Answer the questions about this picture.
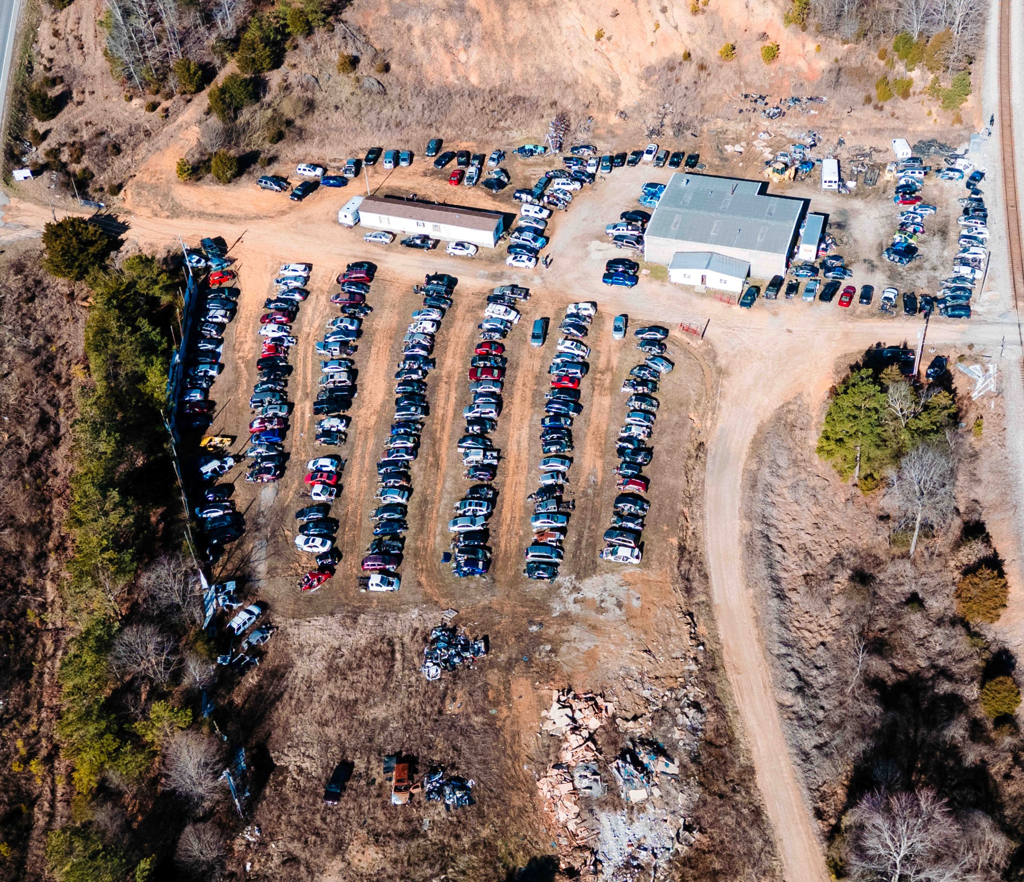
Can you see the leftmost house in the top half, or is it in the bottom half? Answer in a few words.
top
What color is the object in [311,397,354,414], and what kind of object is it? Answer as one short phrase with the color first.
black vehicle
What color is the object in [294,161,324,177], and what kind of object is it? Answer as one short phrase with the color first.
white car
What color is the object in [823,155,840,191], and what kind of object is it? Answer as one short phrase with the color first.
white vehicle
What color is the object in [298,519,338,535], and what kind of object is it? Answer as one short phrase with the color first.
black car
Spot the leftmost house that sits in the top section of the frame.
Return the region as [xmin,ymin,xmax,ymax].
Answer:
[356,195,503,247]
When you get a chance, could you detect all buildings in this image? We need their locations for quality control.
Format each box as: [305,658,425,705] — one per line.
[356,195,503,247]
[643,173,800,276]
